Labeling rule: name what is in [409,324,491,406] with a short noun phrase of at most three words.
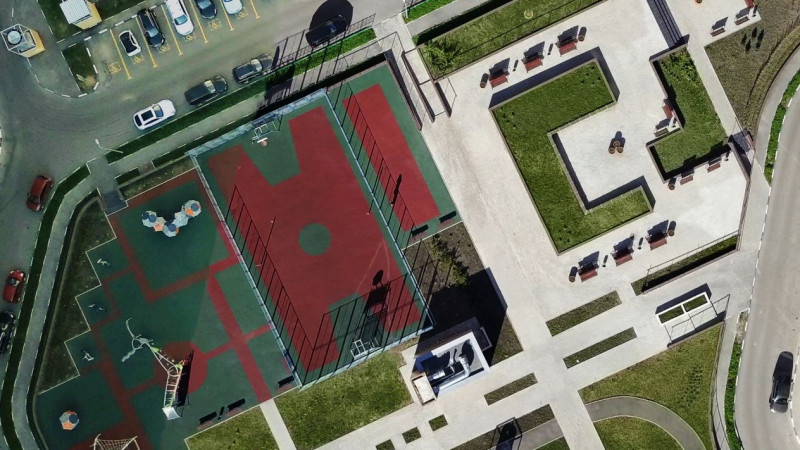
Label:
building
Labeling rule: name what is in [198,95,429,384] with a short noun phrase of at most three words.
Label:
sports court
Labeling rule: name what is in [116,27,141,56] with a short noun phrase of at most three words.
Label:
car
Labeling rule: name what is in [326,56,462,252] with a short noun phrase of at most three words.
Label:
sports court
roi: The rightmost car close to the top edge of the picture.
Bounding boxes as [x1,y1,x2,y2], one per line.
[303,14,348,44]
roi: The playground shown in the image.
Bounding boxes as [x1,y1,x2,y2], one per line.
[37,167,302,450]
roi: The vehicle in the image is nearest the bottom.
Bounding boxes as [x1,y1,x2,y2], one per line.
[770,366,795,412]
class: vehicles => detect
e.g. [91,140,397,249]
[129,99,175,129]
[0,267,25,305]
[162,0,193,35]
[23,173,50,212]
[194,0,216,19]
[181,75,228,105]
[303,14,348,44]
[770,366,795,412]
[220,0,241,13]
[0,311,16,355]
[116,27,141,56]
[133,3,165,48]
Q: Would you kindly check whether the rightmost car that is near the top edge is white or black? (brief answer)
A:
black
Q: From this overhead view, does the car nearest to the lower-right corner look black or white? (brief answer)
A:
black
